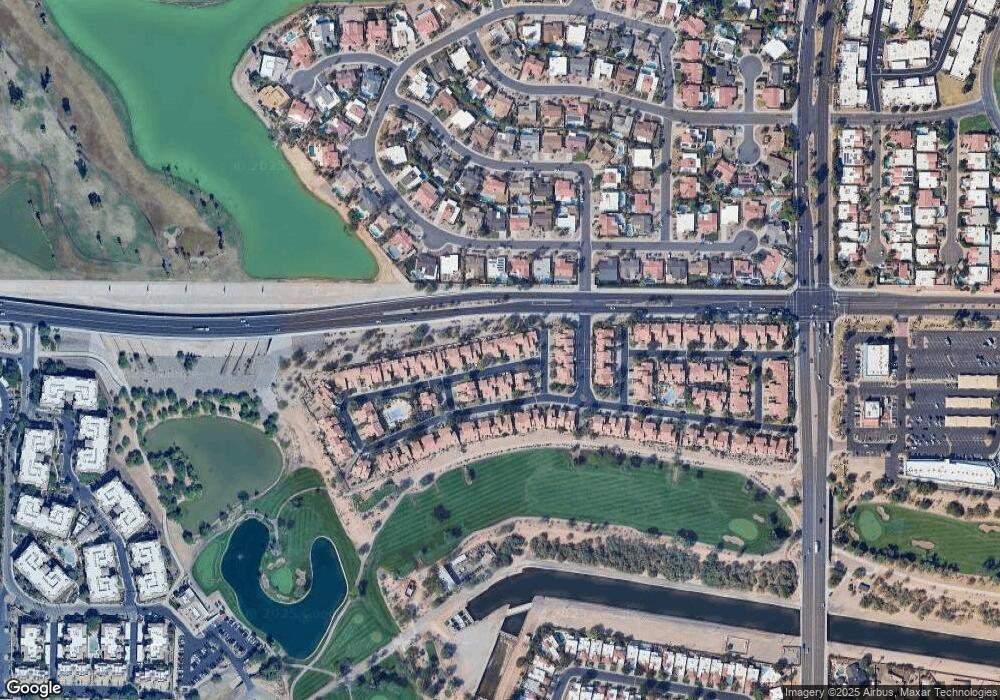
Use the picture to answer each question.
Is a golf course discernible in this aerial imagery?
Yes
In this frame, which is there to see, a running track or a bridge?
bridge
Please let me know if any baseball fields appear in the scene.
No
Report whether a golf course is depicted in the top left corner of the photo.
Yes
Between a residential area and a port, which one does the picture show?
residential area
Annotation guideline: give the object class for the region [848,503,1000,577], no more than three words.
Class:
golf course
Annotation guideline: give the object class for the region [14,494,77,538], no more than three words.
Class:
building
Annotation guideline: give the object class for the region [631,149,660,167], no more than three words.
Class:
house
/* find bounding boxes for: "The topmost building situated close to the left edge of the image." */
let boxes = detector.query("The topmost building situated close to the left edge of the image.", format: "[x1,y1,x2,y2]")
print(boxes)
[38,375,98,411]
